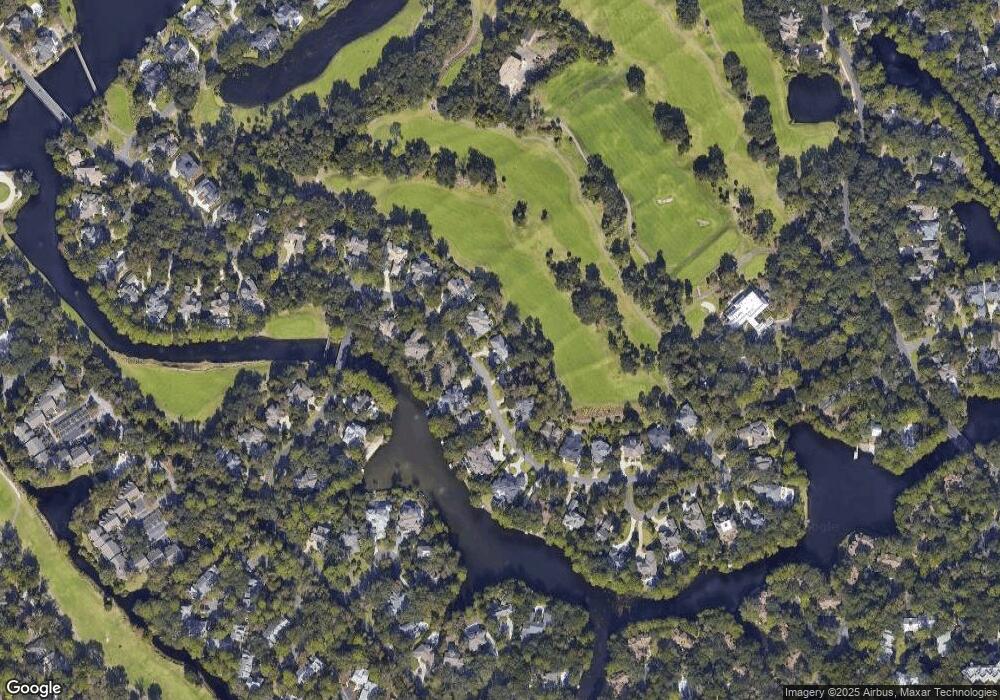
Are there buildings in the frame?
Yes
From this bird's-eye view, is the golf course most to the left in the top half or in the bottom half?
bottom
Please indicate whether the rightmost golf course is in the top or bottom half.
top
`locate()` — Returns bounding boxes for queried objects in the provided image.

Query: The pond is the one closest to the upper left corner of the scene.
[223,0,409,105]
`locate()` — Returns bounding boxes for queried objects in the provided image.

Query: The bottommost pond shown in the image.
[953,201,1000,265]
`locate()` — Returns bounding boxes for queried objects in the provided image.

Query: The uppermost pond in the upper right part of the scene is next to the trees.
[788,73,844,123]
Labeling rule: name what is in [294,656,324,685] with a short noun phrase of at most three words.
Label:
house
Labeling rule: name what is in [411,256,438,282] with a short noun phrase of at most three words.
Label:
house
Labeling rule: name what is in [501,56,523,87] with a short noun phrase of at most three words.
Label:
shed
